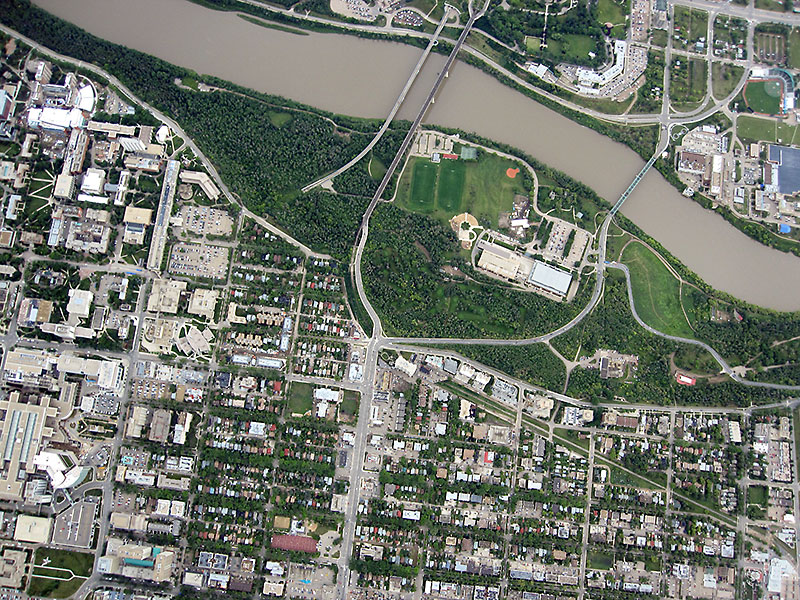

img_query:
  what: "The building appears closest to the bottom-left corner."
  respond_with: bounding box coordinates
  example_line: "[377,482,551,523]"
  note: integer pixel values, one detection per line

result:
[0,549,30,588]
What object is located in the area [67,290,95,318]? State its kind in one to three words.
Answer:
building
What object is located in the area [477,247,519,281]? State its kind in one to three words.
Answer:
building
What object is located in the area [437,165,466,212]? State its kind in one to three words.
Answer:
soccer field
